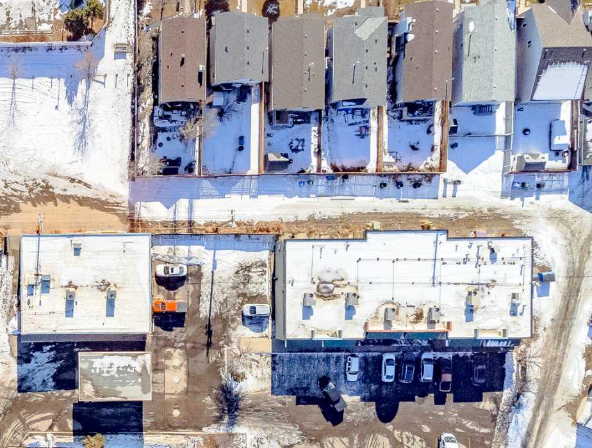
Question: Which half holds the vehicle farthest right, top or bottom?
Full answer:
You can find the vehicle farthest right in the bottom half.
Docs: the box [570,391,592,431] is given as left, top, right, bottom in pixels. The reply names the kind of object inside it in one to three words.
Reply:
vehicle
